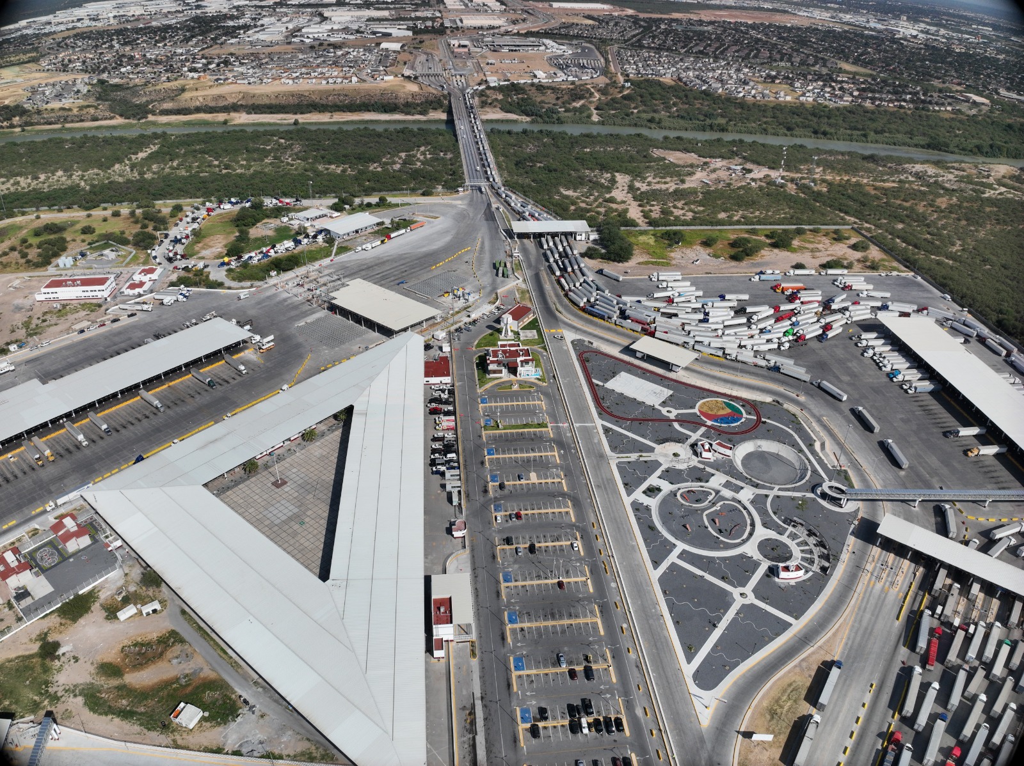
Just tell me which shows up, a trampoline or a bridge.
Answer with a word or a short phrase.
bridge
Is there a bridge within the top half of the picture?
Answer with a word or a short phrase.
Yes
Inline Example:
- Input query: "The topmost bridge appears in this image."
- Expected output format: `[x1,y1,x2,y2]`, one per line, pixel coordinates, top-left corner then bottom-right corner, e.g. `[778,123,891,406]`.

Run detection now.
[450,86,501,187]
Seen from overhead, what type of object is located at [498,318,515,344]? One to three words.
water tower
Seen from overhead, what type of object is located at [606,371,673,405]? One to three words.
sports court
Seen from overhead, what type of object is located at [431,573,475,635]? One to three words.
building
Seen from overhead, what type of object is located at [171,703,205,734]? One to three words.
house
